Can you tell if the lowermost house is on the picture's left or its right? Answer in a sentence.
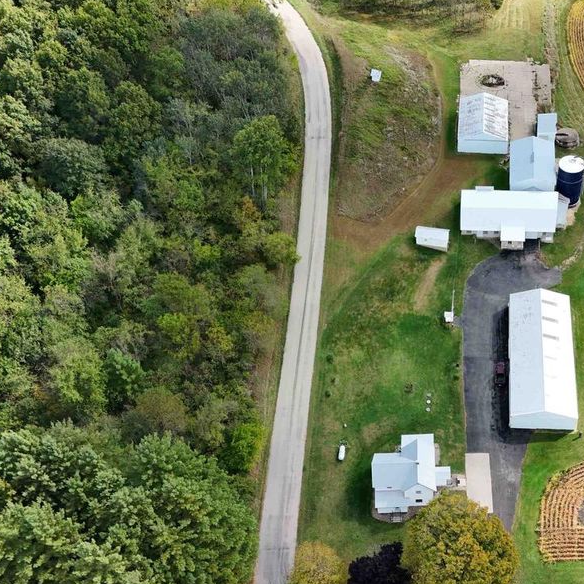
The lowermost house sits on the right side.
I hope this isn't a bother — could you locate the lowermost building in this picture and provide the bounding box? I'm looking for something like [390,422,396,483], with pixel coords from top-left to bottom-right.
[373,435,457,522]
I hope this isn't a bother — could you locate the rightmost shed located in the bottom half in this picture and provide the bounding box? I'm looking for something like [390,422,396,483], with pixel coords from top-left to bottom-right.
[509,287,578,430]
